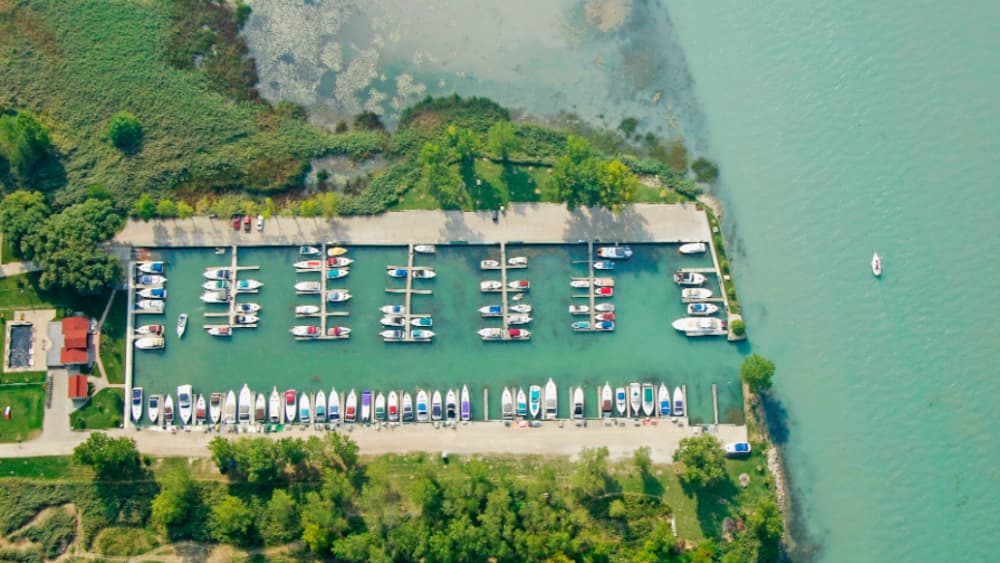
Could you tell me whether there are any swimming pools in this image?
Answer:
Yes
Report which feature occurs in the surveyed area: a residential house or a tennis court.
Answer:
residential house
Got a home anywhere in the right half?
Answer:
No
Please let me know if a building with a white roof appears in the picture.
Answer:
No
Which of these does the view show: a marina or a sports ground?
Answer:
marina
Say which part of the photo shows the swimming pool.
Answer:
left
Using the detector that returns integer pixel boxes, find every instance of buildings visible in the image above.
[48,317,96,370]
[68,375,89,399]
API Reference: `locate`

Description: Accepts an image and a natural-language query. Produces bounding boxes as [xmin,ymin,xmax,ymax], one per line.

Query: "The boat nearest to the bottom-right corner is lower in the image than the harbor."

[727,441,751,454]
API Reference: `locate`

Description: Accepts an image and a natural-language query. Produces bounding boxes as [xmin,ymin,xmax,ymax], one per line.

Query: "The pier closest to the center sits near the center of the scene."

[479,245,530,342]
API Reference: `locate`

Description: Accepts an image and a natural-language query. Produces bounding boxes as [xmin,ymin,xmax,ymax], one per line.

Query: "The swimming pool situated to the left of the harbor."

[3,310,56,373]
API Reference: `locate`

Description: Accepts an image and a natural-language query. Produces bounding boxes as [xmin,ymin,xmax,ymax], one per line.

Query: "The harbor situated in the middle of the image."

[113,202,746,436]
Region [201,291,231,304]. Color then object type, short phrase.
white boat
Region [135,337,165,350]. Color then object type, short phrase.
white boat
